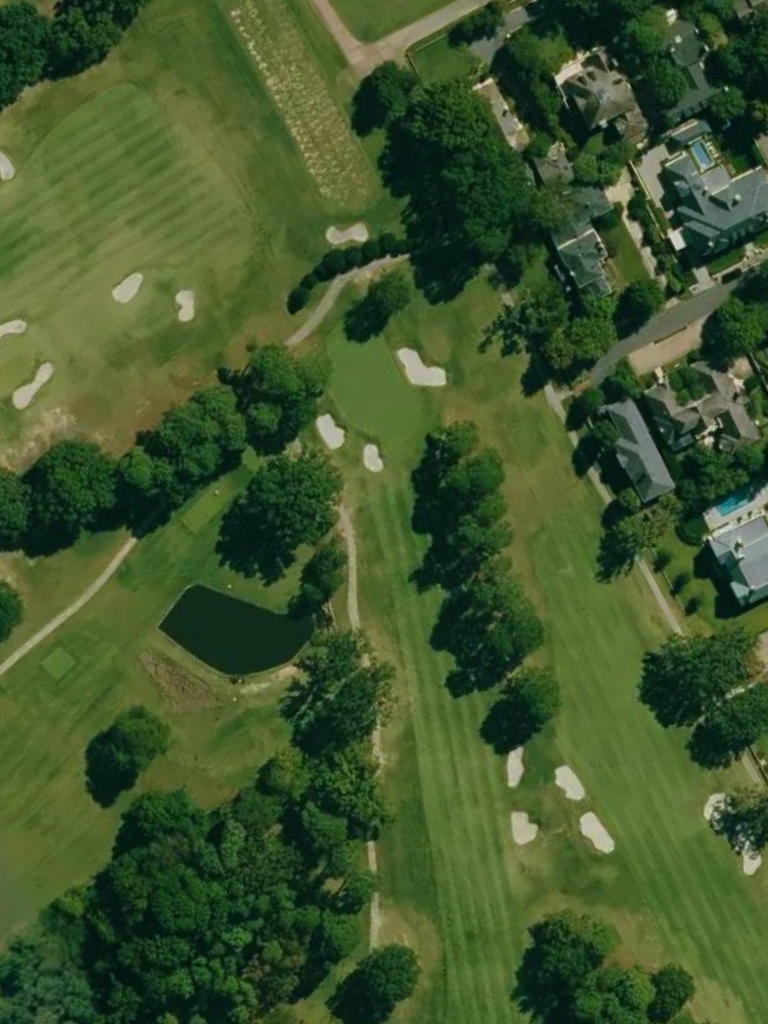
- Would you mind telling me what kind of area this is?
golf course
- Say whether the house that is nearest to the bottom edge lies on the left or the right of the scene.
right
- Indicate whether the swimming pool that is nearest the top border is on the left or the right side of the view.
right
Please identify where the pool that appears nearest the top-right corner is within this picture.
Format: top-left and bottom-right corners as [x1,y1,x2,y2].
[690,138,714,169]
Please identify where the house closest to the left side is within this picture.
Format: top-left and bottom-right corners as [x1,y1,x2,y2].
[484,76,529,149]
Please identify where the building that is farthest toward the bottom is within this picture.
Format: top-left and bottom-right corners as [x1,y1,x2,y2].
[707,506,768,605]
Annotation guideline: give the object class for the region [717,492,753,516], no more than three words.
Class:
swimming pool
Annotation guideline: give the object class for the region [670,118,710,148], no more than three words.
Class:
building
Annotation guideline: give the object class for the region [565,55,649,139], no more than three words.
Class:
house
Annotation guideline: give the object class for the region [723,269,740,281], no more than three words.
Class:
vehicle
